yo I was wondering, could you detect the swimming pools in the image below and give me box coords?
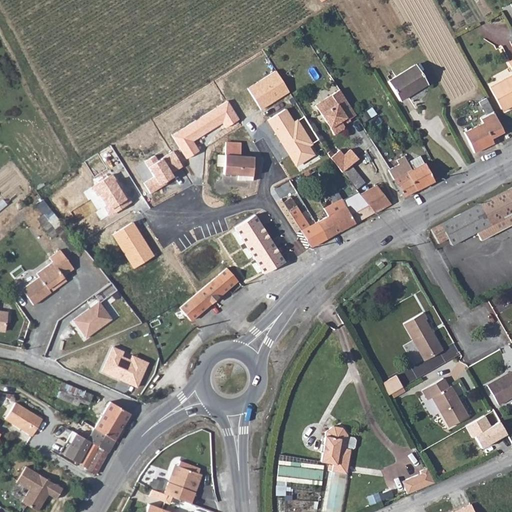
[10,266,24,280]
[322,472,348,512]
[308,66,320,80]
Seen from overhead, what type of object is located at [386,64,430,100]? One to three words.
house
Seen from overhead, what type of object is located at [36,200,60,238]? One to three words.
shed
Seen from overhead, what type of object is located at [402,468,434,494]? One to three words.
building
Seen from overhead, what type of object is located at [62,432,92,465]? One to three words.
barn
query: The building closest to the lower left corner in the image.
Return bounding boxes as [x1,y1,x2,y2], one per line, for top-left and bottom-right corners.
[17,468,62,511]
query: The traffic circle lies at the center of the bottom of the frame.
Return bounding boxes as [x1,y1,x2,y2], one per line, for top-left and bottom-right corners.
[196,343,265,412]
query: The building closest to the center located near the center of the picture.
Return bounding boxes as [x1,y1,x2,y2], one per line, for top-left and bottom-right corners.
[233,215,286,275]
